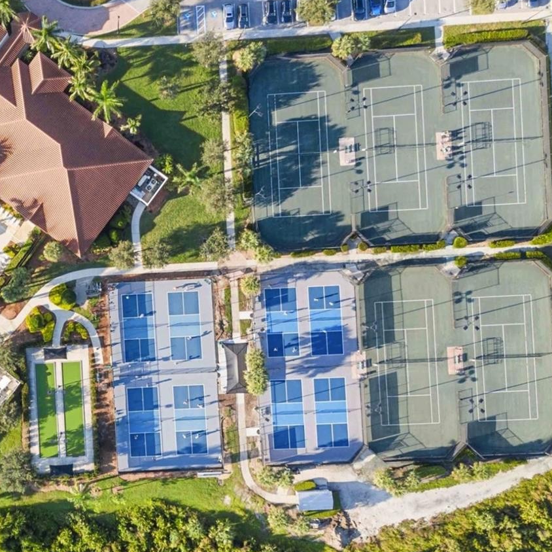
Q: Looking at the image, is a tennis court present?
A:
Yes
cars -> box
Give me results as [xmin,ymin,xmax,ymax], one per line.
[496,0,507,13]
[353,0,365,20]
[280,0,291,26]
[264,0,276,26]
[524,0,536,8]
[293,0,305,25]
[237,4,249,30]
[370,0,381,16]
[224,4,234,30]
[383,0,396,12]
